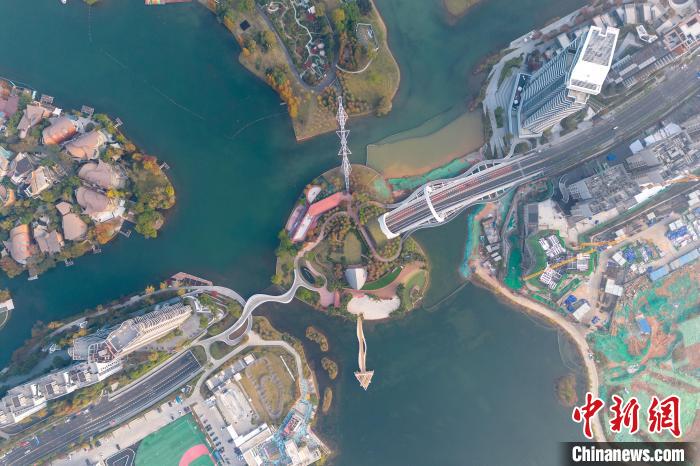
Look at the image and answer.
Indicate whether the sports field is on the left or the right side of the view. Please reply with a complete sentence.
The sports field appears in the left half of the scene.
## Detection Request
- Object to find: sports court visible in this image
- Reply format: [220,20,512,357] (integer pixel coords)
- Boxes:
[105,441,142,466]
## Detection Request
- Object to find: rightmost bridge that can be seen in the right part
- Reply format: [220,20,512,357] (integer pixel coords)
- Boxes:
[373,141,548,240]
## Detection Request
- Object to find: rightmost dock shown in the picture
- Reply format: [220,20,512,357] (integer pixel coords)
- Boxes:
[354,315,375,389]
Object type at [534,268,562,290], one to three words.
building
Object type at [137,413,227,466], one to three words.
sports field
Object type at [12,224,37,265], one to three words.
house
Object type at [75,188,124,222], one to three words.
house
